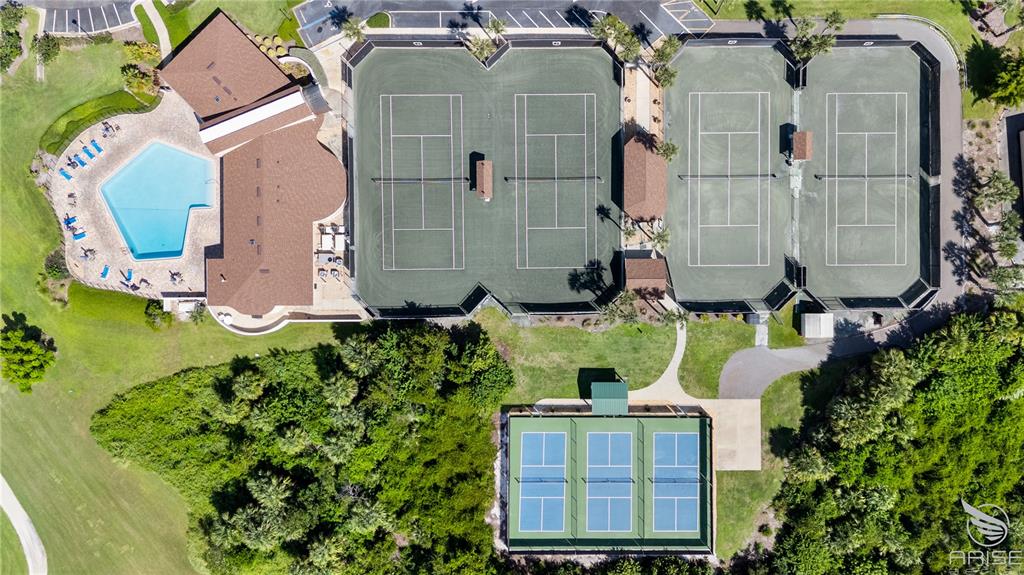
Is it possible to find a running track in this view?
No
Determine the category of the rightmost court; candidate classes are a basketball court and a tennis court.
tennis court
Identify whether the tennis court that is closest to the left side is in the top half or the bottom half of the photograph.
top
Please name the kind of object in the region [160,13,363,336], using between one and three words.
building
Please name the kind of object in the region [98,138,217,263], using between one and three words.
swimming pool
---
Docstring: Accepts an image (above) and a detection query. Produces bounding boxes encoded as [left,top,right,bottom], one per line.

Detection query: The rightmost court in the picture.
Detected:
[800,47,927,309]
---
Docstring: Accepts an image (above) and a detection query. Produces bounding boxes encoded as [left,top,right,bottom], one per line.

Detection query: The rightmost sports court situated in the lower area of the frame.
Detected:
[644,417,709,547]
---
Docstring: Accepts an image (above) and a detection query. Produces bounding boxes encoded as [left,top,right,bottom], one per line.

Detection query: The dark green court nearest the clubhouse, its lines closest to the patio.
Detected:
[354,48,490,317]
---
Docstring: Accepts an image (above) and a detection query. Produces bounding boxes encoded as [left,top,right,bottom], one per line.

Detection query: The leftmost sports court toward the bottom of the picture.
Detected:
[509,417,576,547]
